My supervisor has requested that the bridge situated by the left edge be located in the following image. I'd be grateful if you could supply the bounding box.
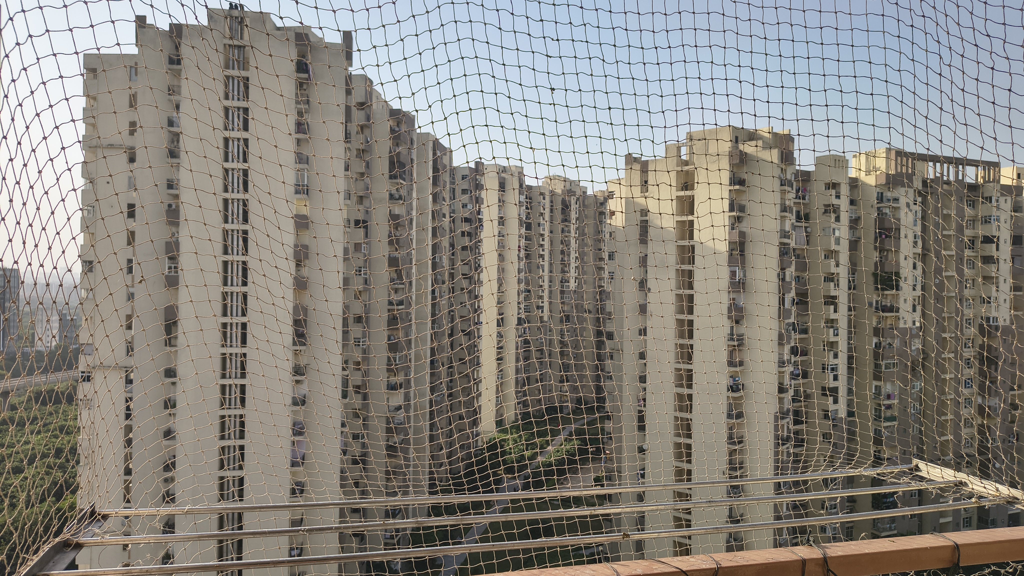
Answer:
[0,369,79,395]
